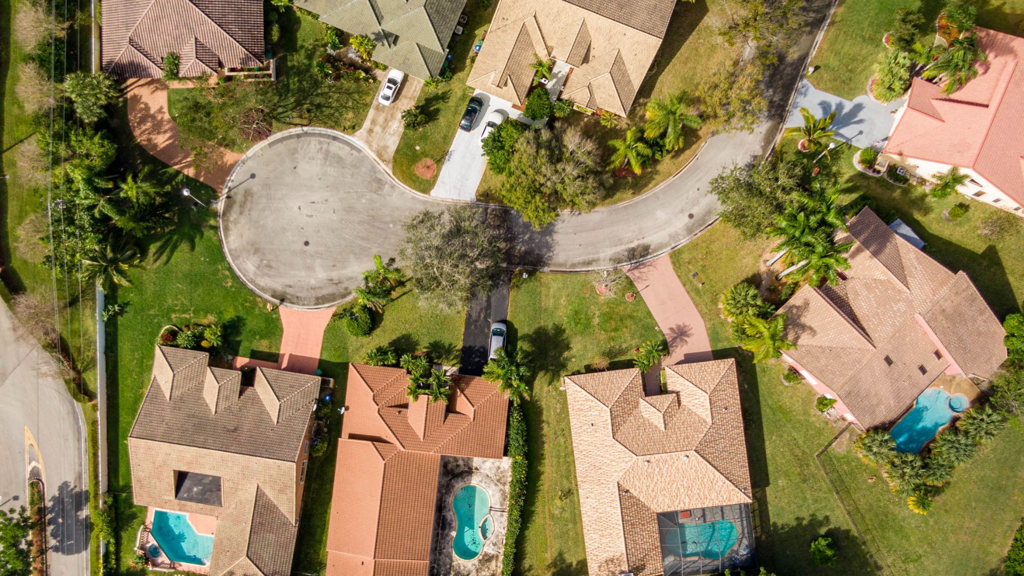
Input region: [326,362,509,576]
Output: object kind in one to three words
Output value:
house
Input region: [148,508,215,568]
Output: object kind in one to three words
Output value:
swimming pool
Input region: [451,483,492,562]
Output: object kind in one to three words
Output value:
swimming pool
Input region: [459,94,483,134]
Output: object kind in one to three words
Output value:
car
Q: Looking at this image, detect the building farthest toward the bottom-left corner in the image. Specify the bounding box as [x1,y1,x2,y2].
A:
[127,345,323,576]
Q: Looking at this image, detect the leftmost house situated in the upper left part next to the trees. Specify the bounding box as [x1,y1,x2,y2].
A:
[101,0,268,87]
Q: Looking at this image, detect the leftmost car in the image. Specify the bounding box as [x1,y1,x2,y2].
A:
[375,69,406,107]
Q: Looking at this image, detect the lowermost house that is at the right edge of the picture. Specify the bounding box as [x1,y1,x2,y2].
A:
[770,205,1007,432]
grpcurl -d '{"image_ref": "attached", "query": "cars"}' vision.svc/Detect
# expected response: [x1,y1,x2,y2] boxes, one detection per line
[478,112,505,151]
[459,94,483,134]
[375,69,406,107]
[487,322,507,363]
